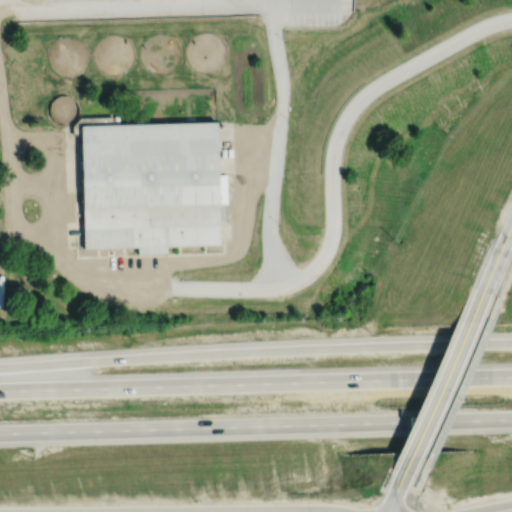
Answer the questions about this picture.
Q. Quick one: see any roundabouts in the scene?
No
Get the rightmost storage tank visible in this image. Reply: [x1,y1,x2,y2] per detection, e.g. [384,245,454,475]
[187,34,226,73]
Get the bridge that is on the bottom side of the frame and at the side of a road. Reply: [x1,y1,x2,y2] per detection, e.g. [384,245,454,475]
[383,201,512,490]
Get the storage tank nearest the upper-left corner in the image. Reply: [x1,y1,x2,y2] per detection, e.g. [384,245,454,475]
[48,37,90,78]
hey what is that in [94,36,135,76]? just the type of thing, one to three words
storage tank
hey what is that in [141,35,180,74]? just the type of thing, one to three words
storage tank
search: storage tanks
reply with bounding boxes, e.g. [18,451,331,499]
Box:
[50,94,79,123]
[187,34,226,73]
[94,36,135,76]
[141,35,180,74]
[48,37,90,78]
